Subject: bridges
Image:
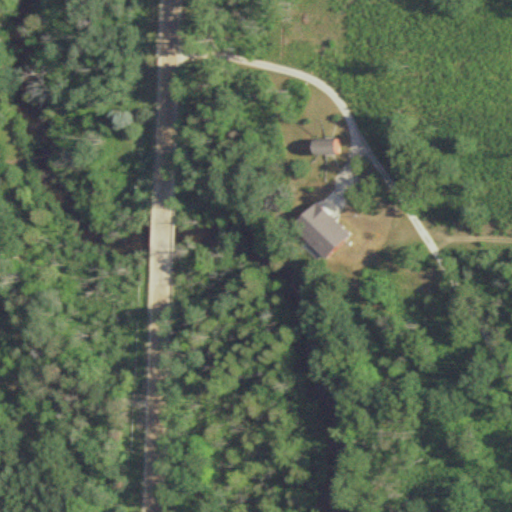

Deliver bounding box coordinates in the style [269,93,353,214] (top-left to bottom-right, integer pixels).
[148,222,176,284]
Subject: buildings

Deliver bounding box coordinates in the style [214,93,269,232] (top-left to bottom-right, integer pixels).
[311,138,342,156]
[294,202,350,259]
